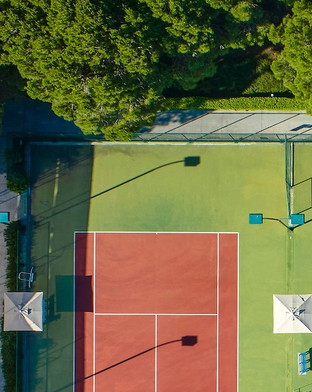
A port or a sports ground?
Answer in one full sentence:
The picture captures a sports ground.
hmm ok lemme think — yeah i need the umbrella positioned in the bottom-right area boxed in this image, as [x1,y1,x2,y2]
[275,295,312,333]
